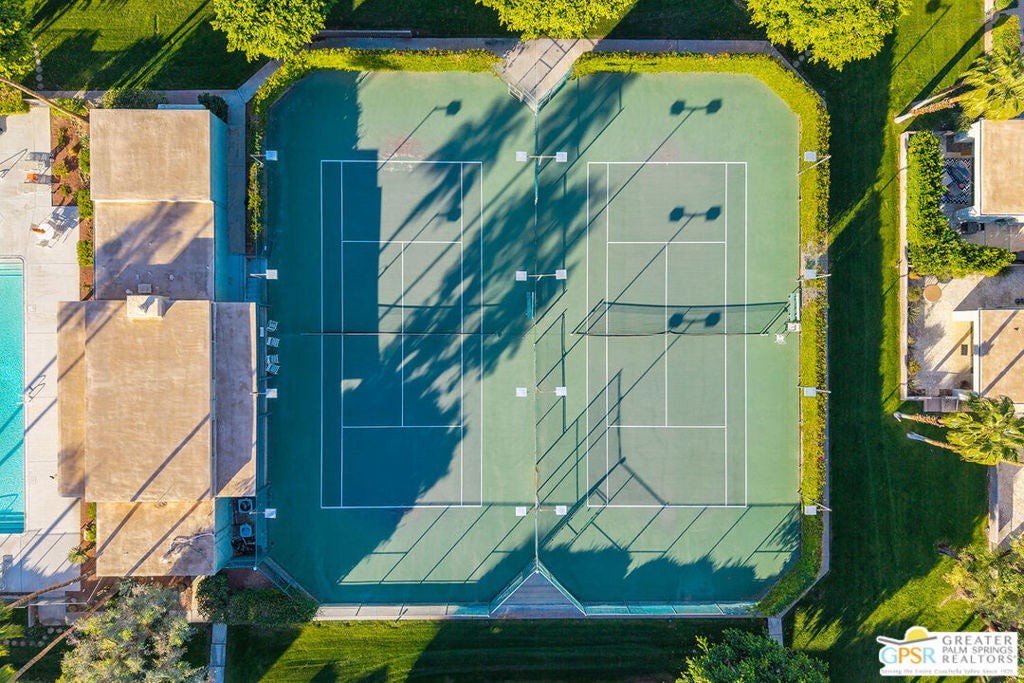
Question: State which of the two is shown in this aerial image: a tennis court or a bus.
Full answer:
Visible in the photo is a tennis court.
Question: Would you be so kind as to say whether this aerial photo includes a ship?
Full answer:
No, I find no ship anywhere in the image.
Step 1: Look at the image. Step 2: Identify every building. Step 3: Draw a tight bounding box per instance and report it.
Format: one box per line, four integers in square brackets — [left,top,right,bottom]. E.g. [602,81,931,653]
[953,130,1024,219]
[948,310,1024,405]
[57,110,257,576]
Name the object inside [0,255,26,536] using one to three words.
swimming pool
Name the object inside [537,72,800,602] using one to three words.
tennis court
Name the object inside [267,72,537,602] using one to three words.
tennis court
